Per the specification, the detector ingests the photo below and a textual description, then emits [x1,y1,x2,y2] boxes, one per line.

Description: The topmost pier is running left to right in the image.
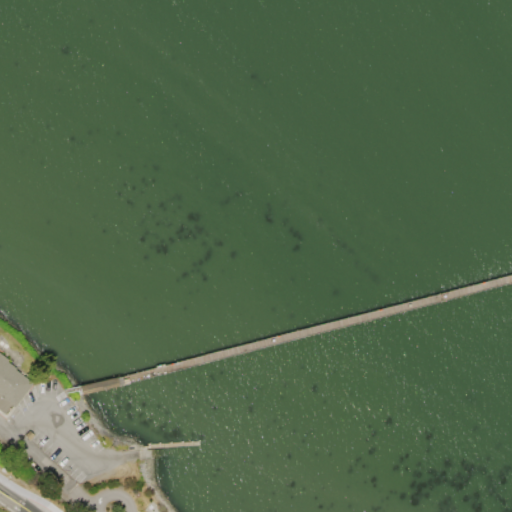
[78,276,512,396]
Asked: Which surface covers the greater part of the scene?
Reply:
water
